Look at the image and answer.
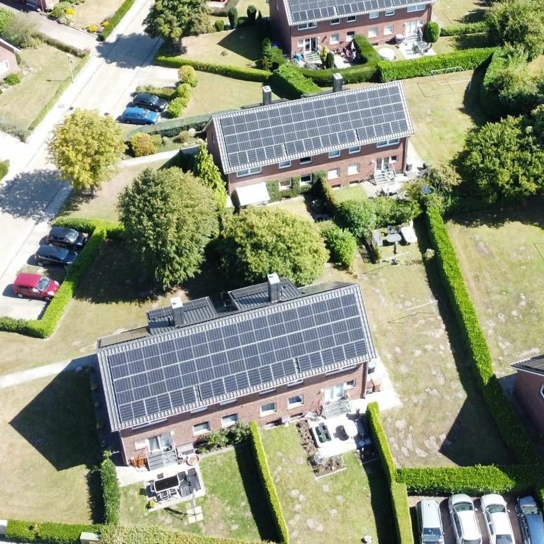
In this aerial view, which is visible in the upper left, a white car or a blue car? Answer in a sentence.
It is a blue car that can be seen in the upper left.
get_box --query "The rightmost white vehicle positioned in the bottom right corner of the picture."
[482,496,516,544]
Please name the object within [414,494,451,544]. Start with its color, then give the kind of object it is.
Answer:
white car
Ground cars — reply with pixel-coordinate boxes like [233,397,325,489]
[130,90,168,111]
[32,246,79,269]
[515,499,544,544]
[12,275,60,299]
[414,494,451,544]
[120,104,160,124]
[44,227,89,249]
[482,496,516,544]
[450,496,483,544]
